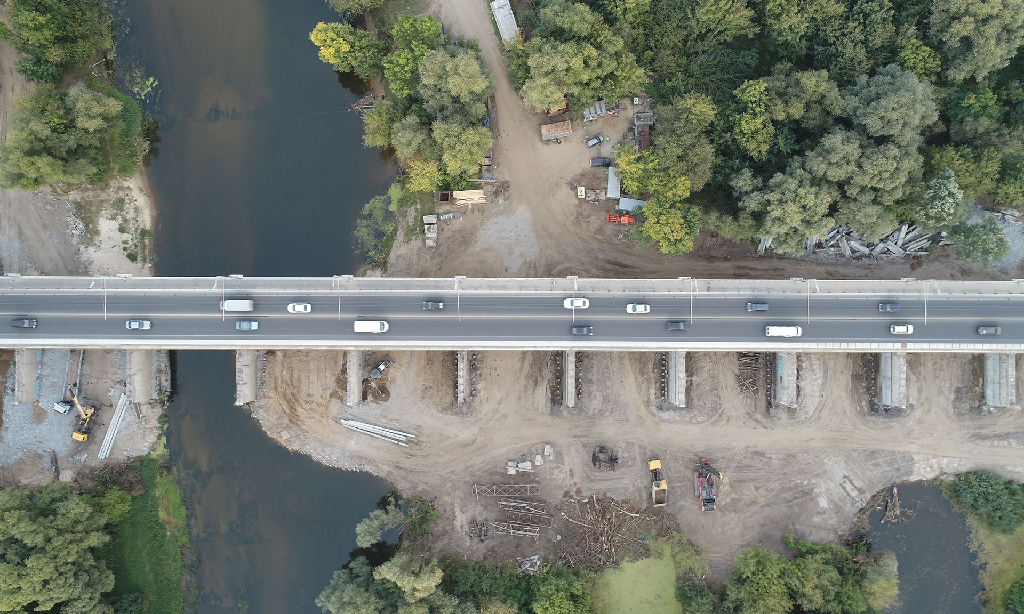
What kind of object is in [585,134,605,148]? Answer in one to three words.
car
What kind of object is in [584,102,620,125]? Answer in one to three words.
shed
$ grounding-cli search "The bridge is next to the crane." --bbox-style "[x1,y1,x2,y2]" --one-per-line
[0,274,1024,408]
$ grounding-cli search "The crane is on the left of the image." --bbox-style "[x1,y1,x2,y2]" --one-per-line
[67,385,113,440]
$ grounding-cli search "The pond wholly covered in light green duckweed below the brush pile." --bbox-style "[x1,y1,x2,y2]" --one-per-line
[593,534,683,614]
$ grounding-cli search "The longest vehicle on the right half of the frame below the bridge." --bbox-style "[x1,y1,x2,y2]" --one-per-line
[647,458,667,506]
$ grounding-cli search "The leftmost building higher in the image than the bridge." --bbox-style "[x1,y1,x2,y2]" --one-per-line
[490,0,519,47]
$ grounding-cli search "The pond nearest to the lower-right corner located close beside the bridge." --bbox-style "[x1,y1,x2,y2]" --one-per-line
[863,484,1024,614]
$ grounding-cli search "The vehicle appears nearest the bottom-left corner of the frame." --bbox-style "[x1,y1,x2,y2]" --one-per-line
[52,397,79,415]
